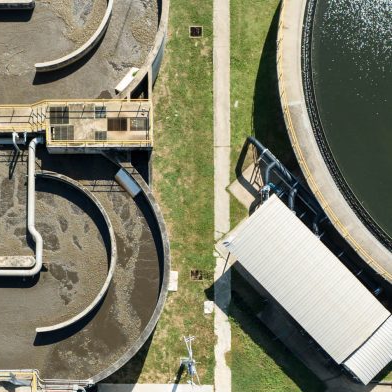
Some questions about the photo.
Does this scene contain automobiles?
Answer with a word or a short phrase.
No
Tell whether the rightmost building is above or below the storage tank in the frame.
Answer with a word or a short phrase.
below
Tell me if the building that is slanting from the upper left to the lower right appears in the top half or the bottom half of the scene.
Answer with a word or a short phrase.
bottom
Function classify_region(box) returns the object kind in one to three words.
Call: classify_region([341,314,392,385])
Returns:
building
